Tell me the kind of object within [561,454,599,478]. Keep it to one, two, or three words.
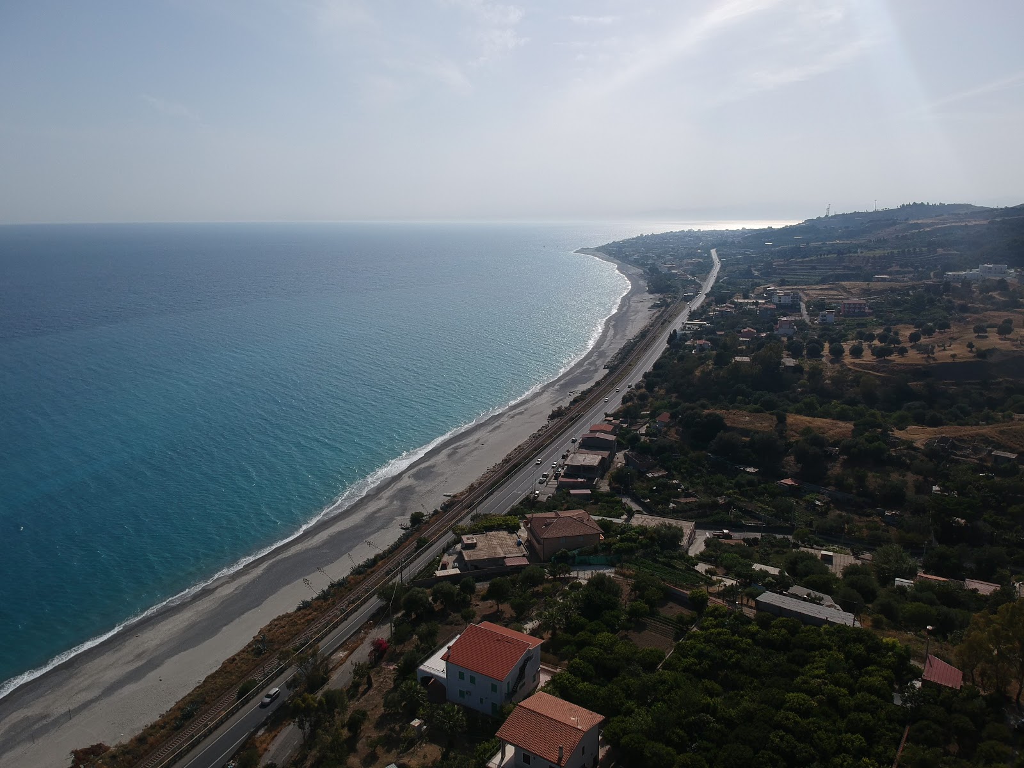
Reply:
building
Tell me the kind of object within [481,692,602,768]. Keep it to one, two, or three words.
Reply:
house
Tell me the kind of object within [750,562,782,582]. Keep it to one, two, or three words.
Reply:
shed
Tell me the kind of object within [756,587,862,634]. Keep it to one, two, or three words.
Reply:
shed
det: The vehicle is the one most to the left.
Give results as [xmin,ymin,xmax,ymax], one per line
[258,689,284,710]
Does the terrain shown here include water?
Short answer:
Yes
